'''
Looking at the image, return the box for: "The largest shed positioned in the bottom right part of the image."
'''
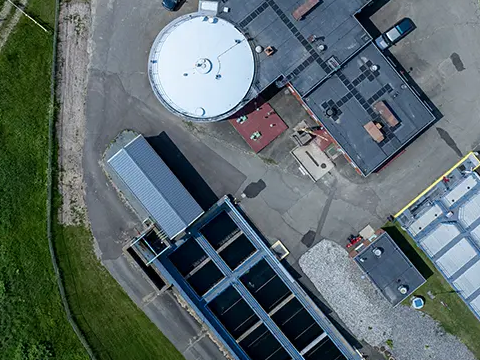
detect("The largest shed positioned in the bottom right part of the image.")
[351,228,427,306]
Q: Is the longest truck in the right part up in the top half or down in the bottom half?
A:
top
